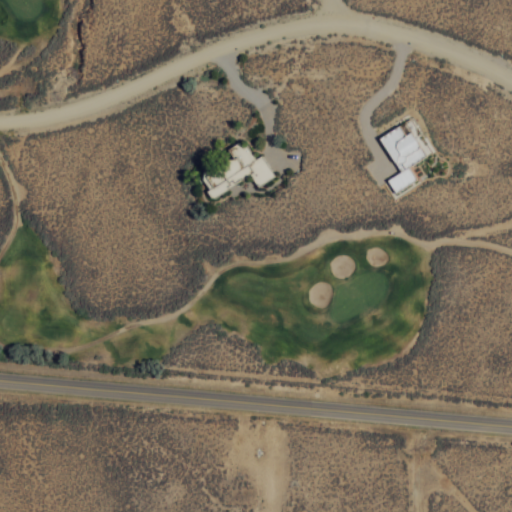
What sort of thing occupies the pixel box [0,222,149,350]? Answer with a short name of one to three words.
golf course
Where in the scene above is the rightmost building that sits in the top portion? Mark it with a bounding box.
[380,124,426,194]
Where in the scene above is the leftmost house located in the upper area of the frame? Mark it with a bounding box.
[202,143,276,200]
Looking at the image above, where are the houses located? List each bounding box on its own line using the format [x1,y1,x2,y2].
[202,143,276,200]
[380,124,426,194]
